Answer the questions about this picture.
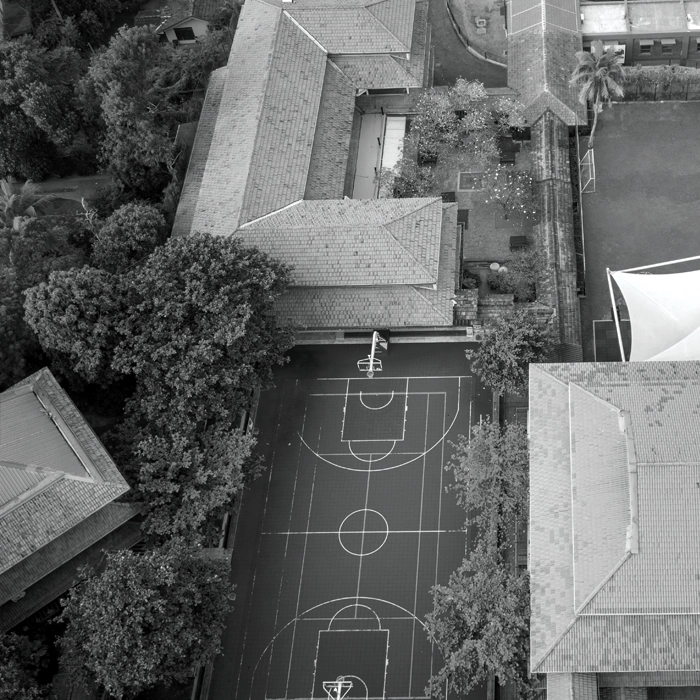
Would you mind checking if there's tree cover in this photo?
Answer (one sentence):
Yes, there's tree cover in this view.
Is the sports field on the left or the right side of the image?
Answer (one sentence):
It is on the right.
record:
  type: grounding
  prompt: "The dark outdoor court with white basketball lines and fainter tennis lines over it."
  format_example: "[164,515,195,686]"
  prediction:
[211,342,496,700]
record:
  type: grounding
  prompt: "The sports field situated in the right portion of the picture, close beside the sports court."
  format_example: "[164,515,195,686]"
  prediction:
[579,99,700,360]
